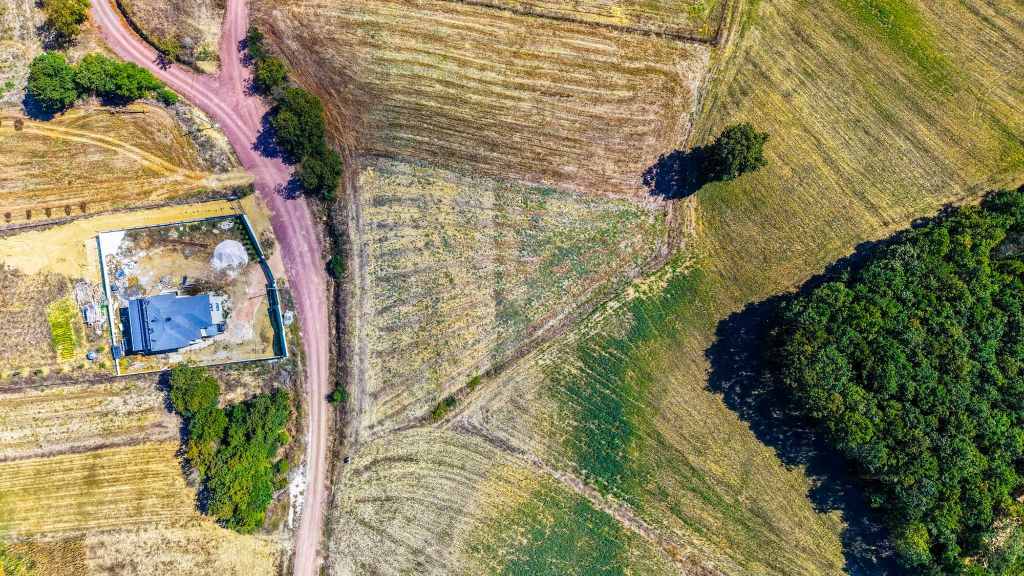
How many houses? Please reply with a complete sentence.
The picture shows 1 house.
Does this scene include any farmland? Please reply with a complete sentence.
Yes, there is farmland in the image.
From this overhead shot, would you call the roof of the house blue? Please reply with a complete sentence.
Yes, blue is the color of the roof of the house.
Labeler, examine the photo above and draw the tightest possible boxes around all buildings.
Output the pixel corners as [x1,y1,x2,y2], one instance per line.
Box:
[126,293,227,351]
